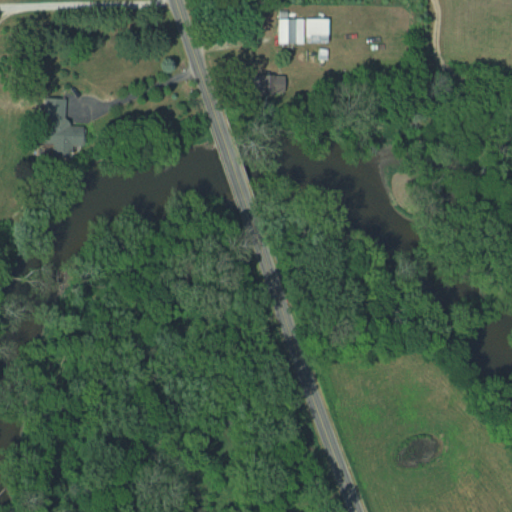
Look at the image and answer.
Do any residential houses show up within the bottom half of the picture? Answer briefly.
No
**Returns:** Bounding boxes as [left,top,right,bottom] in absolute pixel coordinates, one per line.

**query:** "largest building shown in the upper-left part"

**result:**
[48,98,84,154]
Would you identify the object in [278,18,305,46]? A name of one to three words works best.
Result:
barn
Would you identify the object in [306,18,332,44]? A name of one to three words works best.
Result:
building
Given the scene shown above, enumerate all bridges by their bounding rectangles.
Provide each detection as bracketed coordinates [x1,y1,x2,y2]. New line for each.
[210,126,260,217]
